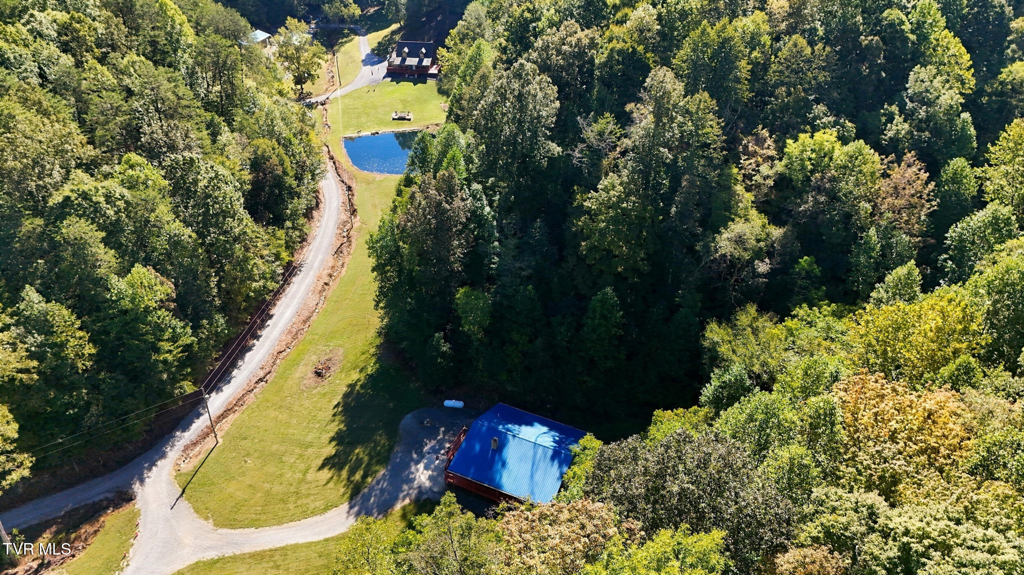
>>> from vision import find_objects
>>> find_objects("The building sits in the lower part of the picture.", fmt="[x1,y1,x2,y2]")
[434,403,589,531]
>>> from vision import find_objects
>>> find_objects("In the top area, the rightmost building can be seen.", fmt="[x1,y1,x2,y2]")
[387,40,441,79]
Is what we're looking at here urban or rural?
rural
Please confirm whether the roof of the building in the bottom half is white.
No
